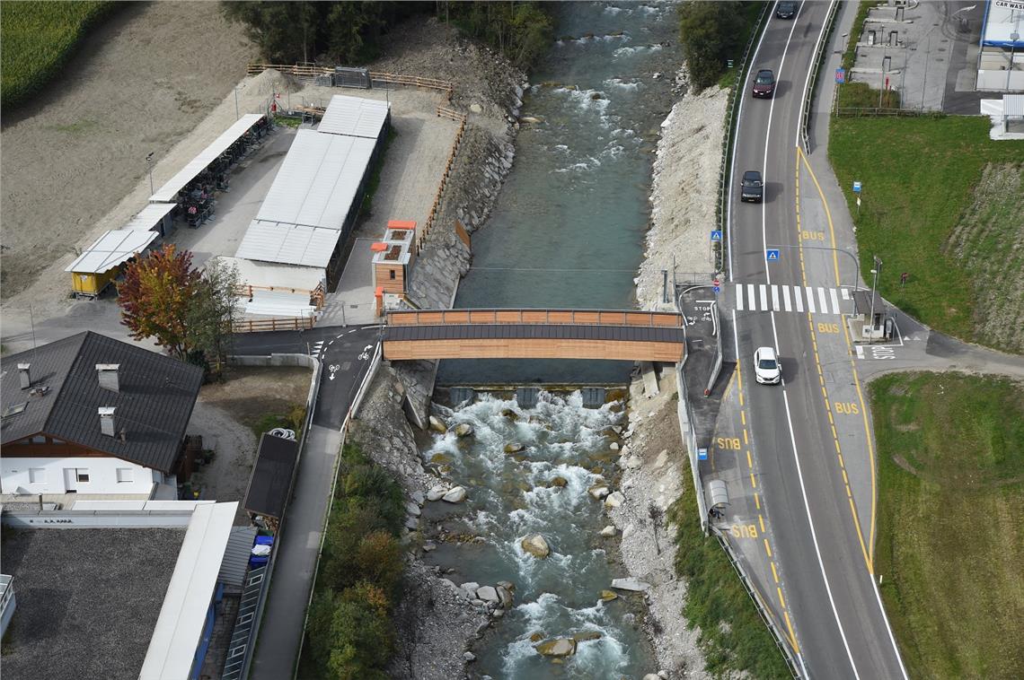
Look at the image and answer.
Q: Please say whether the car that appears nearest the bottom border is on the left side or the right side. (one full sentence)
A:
It is on the right.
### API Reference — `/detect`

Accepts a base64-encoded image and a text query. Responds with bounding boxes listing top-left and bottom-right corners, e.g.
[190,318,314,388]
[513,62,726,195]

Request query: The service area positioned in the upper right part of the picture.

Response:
[846,4,912,85]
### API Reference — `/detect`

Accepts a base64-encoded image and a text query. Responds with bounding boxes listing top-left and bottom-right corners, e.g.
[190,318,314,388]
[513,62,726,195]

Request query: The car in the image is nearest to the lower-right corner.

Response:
[754,347,784,386]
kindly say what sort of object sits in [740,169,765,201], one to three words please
car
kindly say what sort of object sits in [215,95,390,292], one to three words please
building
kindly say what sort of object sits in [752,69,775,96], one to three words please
car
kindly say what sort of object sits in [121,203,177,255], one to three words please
shed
